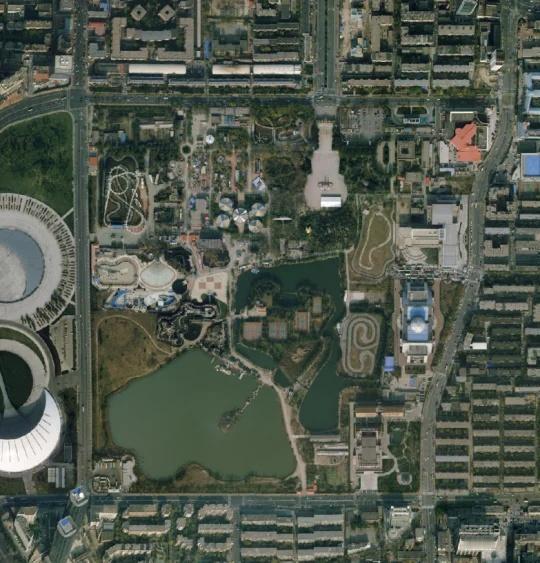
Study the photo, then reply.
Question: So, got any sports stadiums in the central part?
No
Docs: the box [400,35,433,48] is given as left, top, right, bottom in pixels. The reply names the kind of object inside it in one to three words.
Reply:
building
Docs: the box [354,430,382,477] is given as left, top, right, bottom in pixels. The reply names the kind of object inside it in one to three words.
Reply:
building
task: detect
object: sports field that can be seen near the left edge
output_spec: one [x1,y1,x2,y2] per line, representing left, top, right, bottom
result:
[0,350,34,418]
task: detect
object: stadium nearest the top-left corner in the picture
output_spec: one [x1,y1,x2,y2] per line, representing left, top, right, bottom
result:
[0,193,78,332]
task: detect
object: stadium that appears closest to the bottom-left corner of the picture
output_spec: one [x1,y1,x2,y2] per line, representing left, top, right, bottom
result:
[0,320,62,473]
